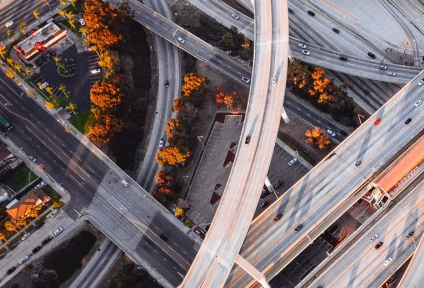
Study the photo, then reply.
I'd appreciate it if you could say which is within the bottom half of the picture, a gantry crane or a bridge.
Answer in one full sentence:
You can see a bridge within the bottom half of the picture.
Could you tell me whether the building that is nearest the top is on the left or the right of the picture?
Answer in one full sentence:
The building that is nearest the top appears in the left half of the scene.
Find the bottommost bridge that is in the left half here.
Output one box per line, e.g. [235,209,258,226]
[90,183,180,260]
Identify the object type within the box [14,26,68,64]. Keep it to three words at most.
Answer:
building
